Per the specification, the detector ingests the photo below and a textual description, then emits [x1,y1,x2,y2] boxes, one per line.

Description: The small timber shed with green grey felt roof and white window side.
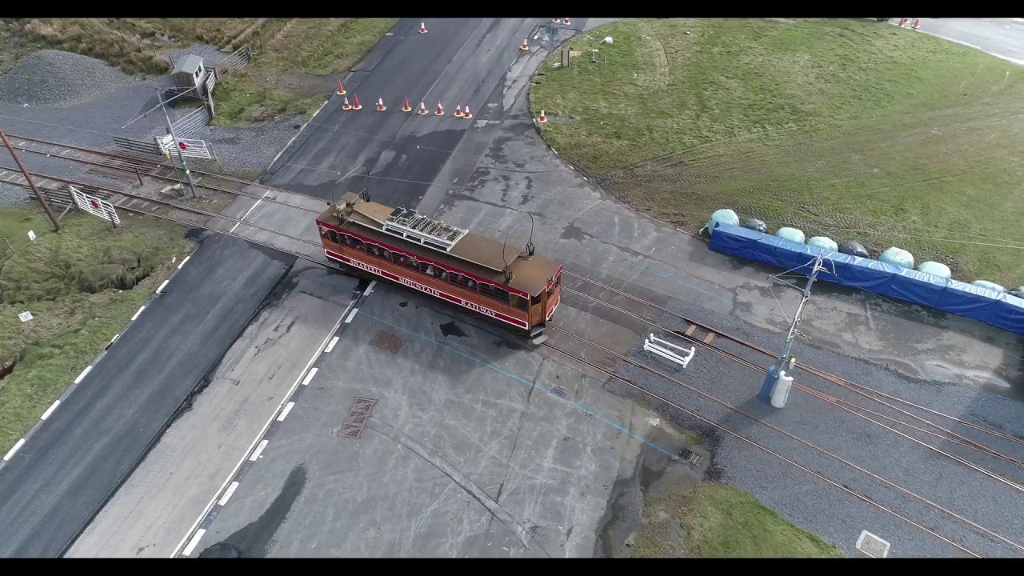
[169,51,203,101]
